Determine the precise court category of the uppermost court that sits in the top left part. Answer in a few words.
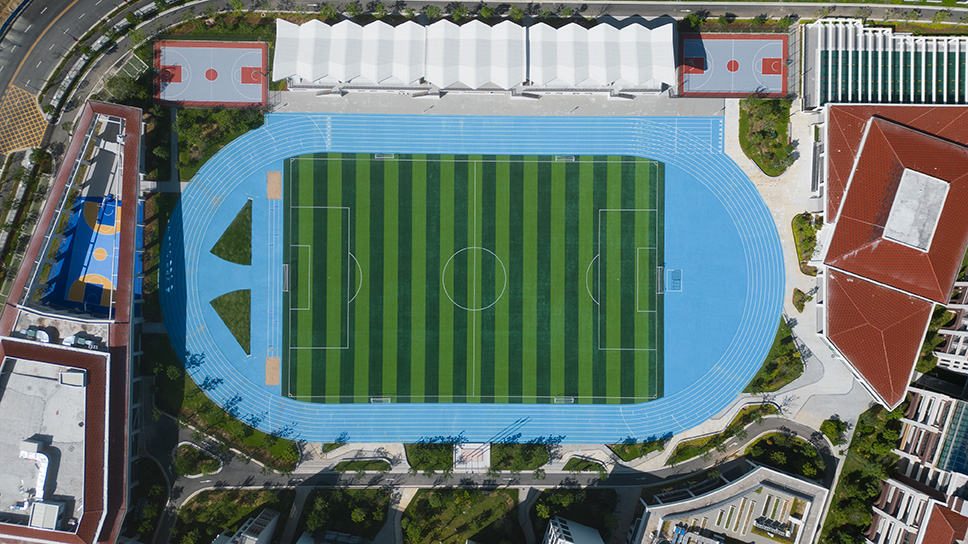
basketball court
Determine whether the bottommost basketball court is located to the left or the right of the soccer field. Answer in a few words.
left of it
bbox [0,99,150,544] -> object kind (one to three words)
building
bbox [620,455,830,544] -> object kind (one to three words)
building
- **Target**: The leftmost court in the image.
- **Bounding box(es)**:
[69,202,119,307]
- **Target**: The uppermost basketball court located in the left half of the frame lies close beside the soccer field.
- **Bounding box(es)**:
[153,41,268,106]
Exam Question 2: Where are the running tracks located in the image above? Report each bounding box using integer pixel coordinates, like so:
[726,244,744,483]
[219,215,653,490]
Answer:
[159,112,784,444]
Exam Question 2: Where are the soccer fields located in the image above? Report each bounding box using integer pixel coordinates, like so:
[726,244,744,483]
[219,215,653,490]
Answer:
[282,150,666,405]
